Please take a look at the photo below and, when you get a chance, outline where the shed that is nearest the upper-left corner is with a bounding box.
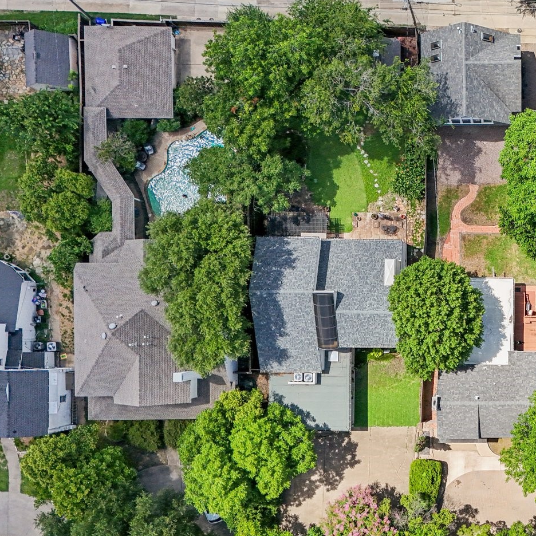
[24,30,78,92]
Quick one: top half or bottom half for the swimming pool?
top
